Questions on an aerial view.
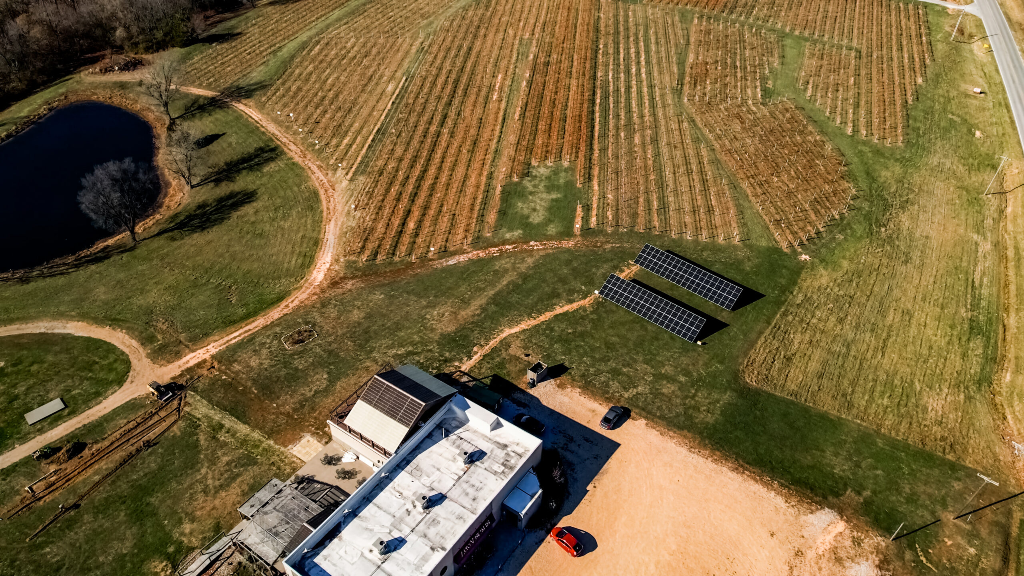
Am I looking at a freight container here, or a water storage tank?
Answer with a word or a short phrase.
freight container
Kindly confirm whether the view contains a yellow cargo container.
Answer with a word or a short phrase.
No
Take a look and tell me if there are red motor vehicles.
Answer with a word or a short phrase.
Yes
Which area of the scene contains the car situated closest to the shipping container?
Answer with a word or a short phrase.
bottom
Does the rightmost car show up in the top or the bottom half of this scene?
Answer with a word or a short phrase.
bottom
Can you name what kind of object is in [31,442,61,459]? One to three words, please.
work vehicle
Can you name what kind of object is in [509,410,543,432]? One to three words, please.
car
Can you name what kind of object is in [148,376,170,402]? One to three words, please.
work vehicle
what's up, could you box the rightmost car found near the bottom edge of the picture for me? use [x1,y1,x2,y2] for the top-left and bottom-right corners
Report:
[545,530,580,559]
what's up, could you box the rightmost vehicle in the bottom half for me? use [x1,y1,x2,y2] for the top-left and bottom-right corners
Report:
[597,403,624,428]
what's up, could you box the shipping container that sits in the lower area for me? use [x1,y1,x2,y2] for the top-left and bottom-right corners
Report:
[468,383,501,412]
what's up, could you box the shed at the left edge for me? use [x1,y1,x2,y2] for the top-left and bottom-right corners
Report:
[24,396,63,423]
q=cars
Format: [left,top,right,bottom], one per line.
[597,403,624,428]
[509,410,543,432]
[545,530,580,559]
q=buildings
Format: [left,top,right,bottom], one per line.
[24,396,63,423]
[283,391,544,576]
